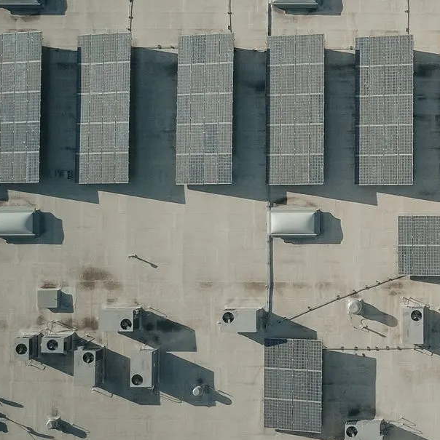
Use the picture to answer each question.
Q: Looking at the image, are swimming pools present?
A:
No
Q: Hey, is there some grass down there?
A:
No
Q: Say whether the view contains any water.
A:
No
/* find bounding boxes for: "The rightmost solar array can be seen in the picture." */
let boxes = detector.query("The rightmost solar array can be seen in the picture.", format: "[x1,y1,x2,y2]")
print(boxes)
[398,216,440,276]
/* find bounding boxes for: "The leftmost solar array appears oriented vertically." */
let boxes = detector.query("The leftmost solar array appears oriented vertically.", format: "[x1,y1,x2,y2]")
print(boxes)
[0,32,43,184]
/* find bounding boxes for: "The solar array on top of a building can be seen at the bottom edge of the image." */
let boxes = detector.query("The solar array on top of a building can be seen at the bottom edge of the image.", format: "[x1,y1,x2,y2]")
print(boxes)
[264,339,322,433]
